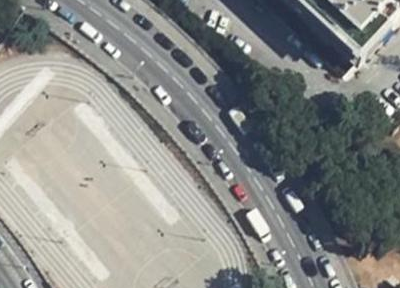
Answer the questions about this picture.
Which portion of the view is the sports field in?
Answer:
left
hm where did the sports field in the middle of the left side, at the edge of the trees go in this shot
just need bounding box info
[0,68,178,280]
